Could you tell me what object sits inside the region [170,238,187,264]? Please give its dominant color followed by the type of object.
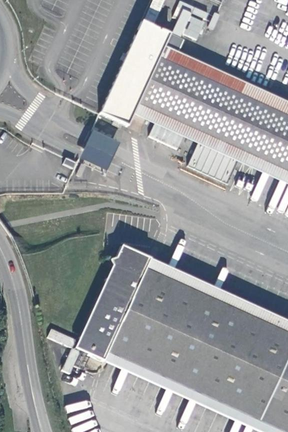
white vehicle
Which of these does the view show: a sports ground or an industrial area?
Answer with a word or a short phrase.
industrial area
